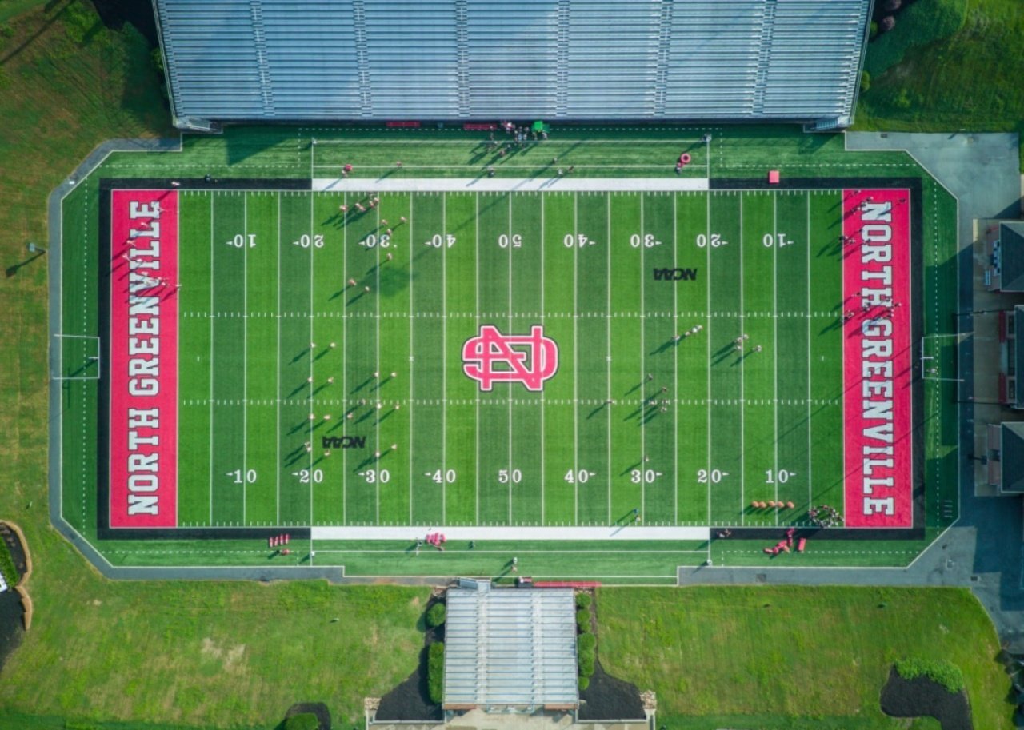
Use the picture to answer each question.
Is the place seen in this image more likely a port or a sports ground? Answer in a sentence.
What you see here is a sports ground.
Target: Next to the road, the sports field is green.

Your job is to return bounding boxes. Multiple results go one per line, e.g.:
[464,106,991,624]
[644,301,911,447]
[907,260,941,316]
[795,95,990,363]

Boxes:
[62,126,958,588]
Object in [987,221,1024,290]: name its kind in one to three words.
building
